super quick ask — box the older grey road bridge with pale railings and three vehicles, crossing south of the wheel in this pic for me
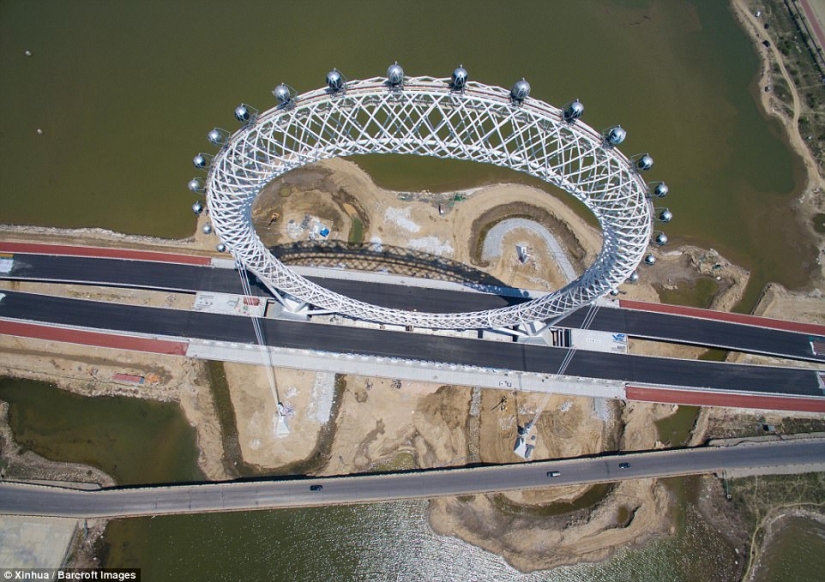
[0,442,825,518]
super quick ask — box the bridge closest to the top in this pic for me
[0,242,825,413]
